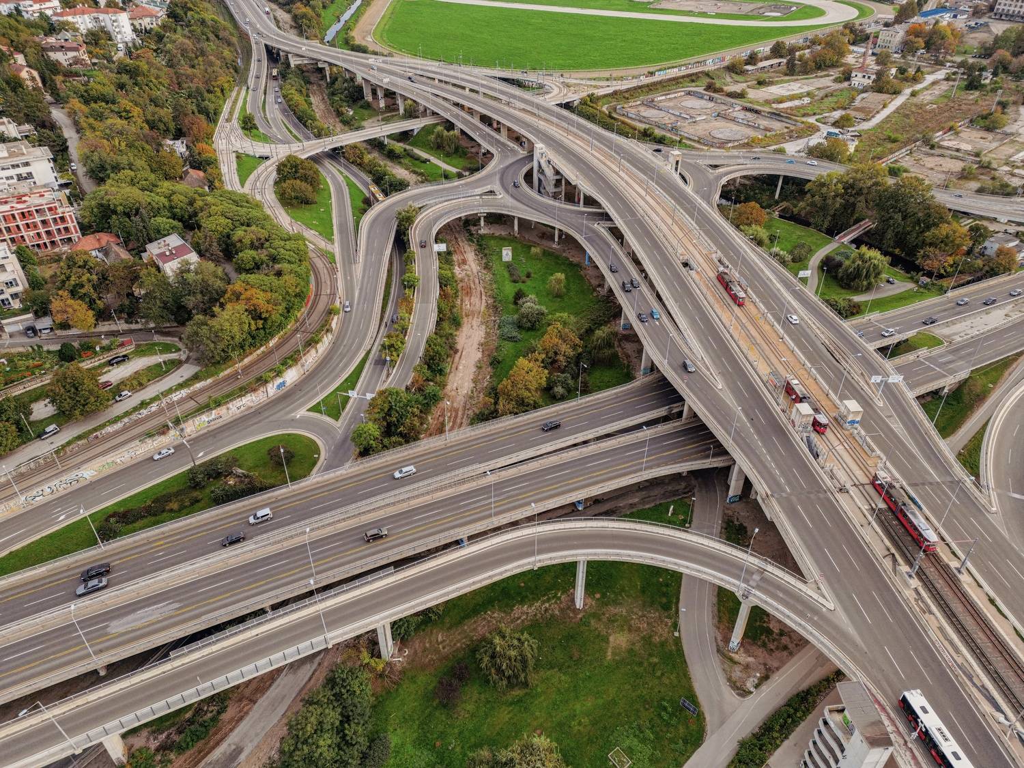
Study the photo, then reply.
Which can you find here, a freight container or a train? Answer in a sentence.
Looking from above, you can make out a train.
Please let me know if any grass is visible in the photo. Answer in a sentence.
Yes, grass shows up in the scene.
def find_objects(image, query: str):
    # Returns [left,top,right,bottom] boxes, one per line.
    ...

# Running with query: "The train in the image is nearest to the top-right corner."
[718,265,748,303]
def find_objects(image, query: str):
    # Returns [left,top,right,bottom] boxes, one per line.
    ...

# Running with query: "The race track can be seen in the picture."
[352,0,894,76]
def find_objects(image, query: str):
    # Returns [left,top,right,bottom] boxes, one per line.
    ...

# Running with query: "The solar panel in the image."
[675,694,703,717]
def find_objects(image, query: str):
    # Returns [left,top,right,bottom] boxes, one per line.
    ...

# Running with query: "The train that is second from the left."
[786,374,829,431]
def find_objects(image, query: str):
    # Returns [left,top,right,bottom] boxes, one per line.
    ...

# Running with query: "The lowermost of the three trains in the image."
[873,468,939,550]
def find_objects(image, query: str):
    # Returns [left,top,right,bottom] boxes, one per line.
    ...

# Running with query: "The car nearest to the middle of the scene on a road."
[540,417,563,432]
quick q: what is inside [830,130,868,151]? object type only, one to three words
house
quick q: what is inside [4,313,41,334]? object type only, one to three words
house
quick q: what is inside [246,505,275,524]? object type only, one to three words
vehicle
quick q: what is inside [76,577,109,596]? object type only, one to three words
car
